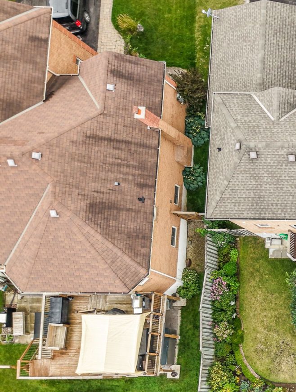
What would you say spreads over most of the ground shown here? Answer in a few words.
buildings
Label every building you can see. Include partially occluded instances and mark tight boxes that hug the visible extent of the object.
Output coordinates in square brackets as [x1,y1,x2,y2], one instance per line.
[204,0,296,239]
[0,1,200,295]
